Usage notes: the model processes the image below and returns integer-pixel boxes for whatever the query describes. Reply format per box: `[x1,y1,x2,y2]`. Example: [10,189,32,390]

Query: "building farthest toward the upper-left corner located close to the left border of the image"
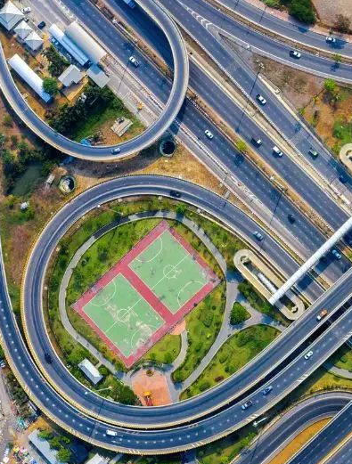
[0,1,25,32]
